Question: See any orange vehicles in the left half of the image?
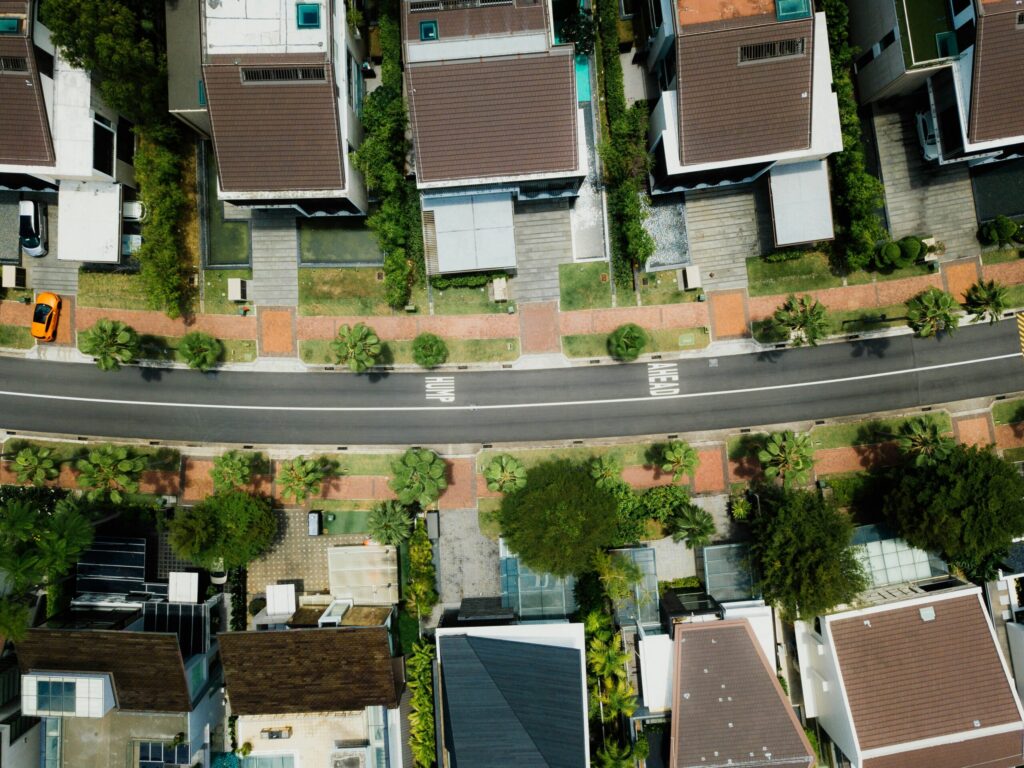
Yes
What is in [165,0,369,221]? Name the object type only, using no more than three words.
house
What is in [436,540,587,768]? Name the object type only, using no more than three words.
house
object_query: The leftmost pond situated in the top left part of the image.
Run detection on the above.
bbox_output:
[204,140,252,268]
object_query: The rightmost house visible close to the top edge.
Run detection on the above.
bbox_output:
[854,0,1024,170]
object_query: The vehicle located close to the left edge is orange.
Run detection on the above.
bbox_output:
[27,291,65,345]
